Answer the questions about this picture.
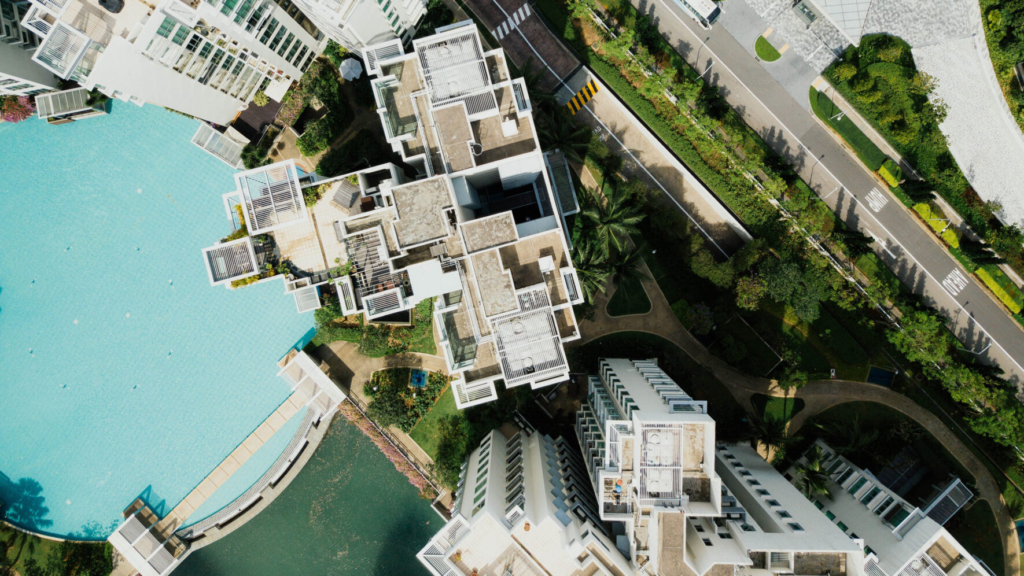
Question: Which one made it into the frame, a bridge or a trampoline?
bridge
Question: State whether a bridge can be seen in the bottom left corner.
Yes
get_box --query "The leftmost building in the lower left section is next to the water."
[108,496,198,576]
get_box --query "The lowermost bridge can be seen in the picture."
[163,379,320,530]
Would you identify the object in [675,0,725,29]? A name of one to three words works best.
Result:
bus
